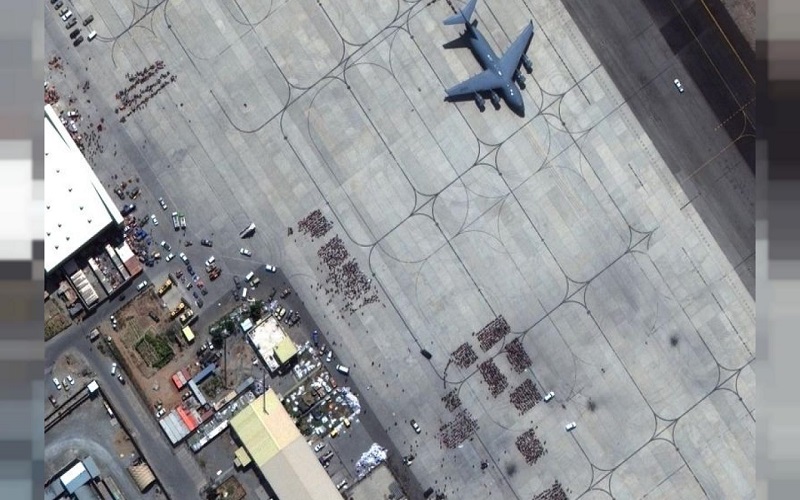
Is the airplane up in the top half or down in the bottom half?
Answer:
top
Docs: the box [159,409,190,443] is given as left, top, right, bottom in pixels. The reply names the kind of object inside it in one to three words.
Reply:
shed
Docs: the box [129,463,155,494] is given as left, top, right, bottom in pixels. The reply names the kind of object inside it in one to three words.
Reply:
shed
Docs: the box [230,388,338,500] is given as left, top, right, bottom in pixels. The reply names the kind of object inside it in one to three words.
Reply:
hangar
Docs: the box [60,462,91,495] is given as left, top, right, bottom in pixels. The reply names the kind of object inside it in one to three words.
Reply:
building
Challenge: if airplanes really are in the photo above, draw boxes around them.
[442,0,533,116]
